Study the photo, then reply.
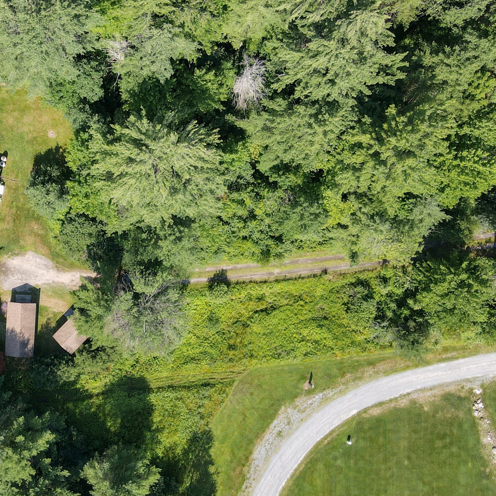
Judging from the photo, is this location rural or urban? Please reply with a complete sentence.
The area shown here is rural.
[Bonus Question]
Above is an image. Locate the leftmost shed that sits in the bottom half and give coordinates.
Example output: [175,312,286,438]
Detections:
[4,290,37,358]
